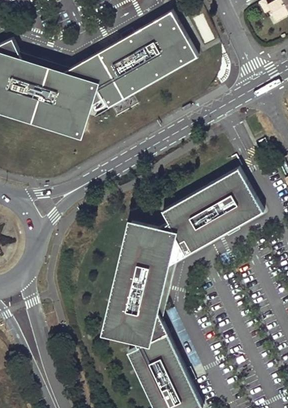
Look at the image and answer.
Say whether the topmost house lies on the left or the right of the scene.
right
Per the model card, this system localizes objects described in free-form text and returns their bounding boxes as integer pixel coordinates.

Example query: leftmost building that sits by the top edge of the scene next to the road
[0,9,200,142]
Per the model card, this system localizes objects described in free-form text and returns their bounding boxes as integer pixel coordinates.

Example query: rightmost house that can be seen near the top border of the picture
[258,0,288,22]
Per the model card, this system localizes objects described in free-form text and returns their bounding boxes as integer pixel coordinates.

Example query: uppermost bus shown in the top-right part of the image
[253,78,282,98]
